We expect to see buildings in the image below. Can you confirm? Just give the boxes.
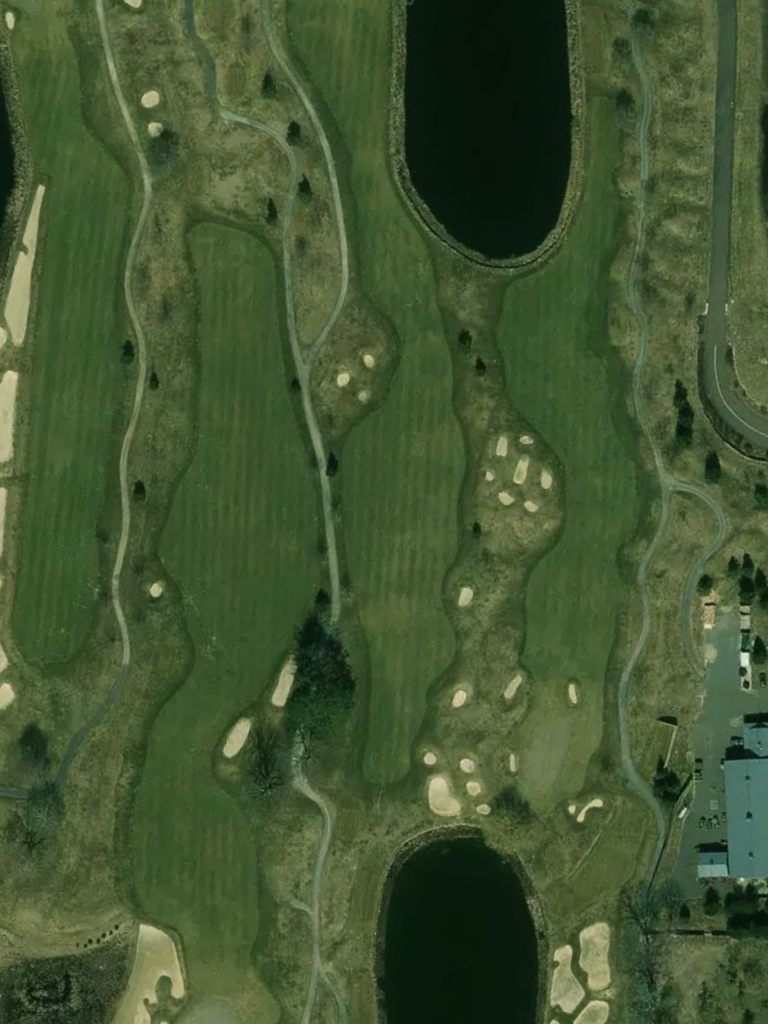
[745,724,768,760]
[699,853,728,878]
[725,760,768,879]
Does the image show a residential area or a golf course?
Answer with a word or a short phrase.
golf course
